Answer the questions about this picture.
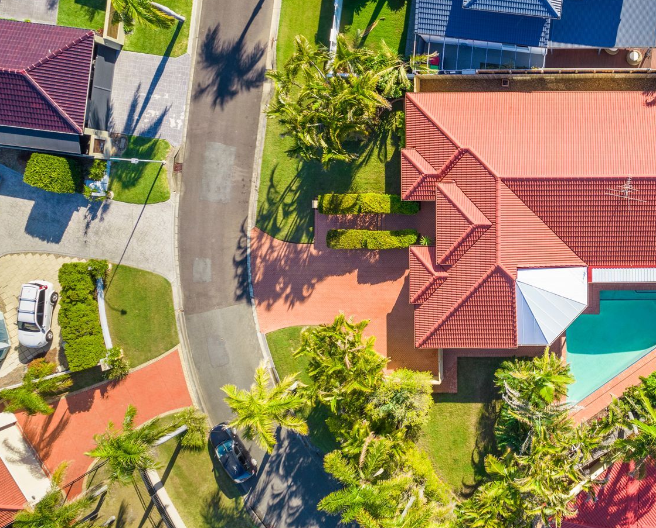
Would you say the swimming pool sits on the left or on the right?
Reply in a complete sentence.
The swimming pool sits on the right side.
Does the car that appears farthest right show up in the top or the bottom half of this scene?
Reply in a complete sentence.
The bottom half of the photo is where the car that appears farthest right is.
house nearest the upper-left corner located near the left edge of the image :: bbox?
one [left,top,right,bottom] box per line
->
[0,18,119,135]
